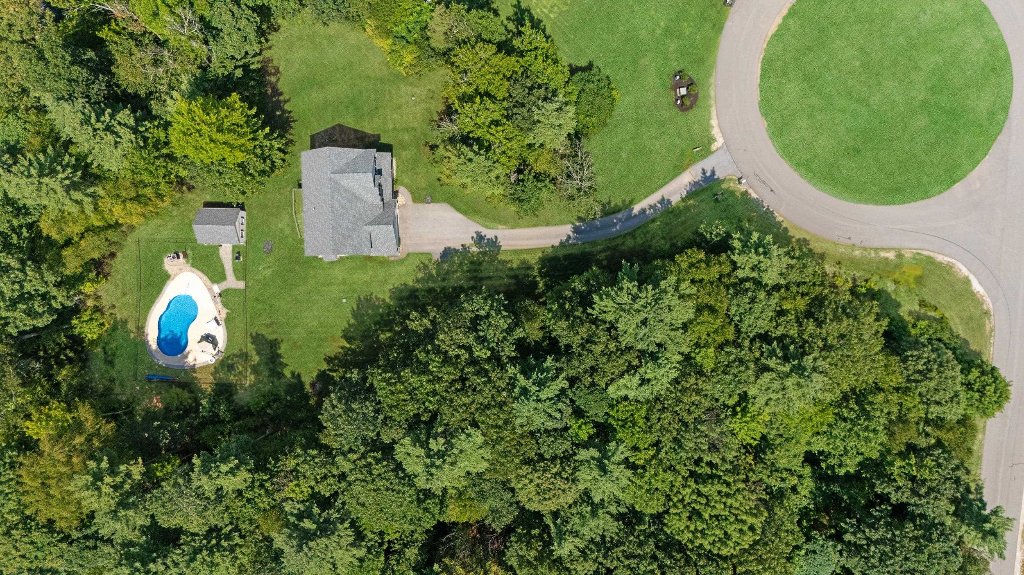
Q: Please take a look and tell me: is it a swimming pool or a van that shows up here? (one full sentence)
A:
It is a swimming pool that can be seen here.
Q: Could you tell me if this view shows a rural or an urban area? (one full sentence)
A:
From above, the setting appears rural.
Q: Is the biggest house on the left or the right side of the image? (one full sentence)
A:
It is on the left.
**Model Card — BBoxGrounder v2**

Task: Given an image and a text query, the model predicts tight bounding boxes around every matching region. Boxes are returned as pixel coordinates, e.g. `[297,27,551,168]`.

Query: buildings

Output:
[301,147,400,263]
[192,208,246,244]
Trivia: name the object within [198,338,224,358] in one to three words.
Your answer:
umbrella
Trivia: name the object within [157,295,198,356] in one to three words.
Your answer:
swimming pool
